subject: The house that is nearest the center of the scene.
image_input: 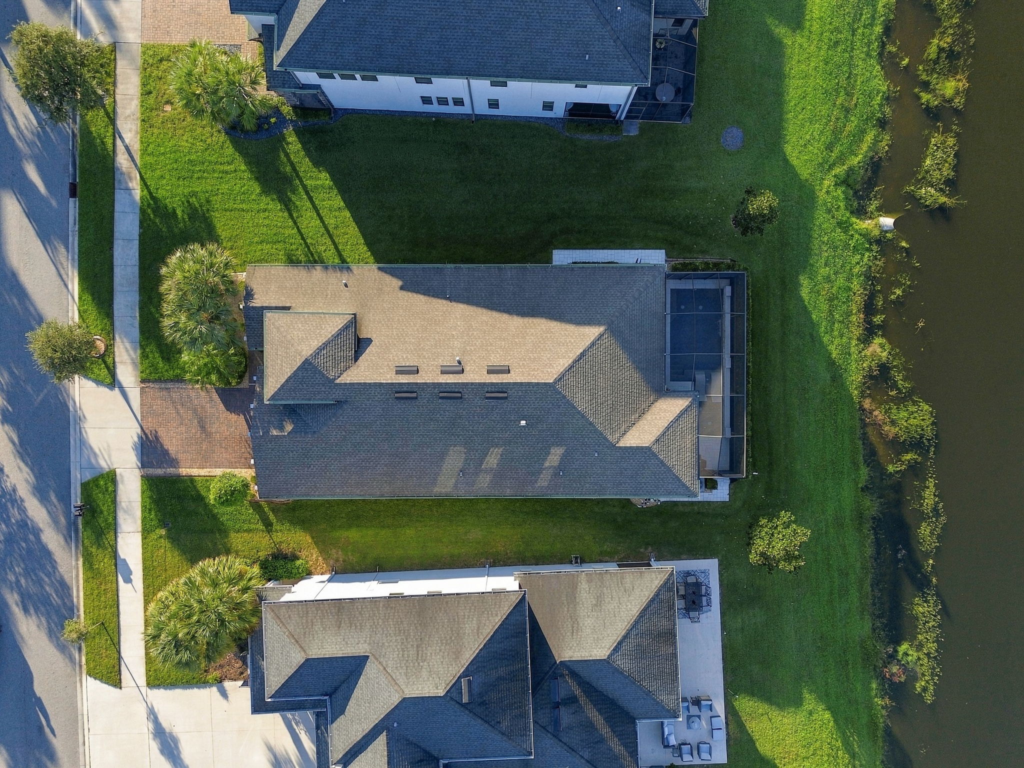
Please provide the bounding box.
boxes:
[240,265,699,500]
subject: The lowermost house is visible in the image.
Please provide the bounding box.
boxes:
[246,555,682,768]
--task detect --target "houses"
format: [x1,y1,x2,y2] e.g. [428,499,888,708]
[240,265,699,500]
[246,555,682,768]
[226,0,712,121]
